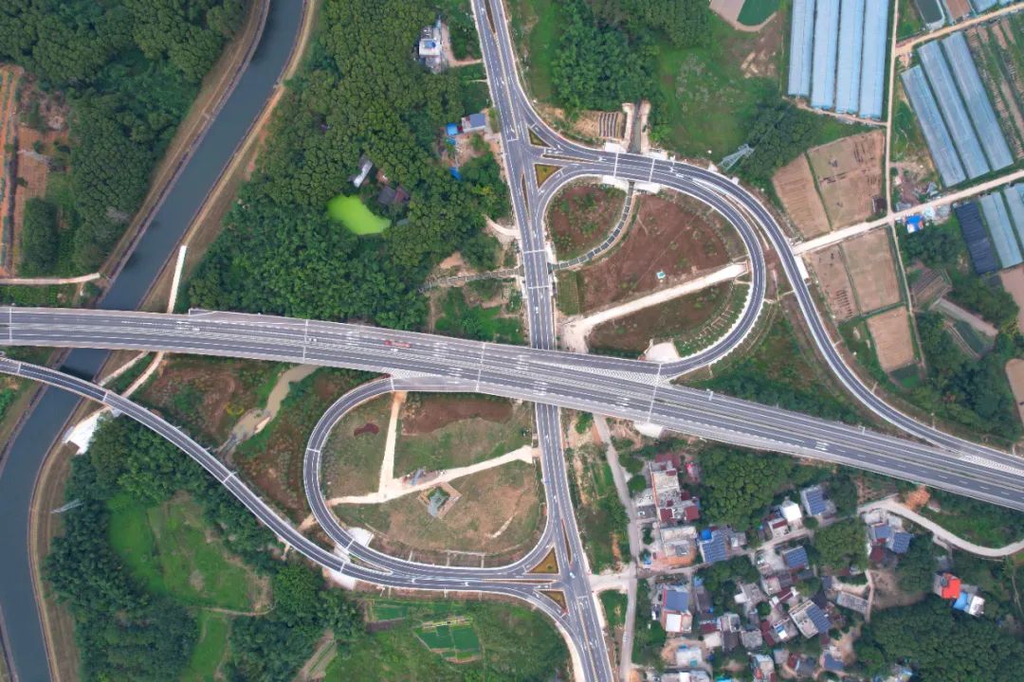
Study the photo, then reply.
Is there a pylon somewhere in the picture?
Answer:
Yes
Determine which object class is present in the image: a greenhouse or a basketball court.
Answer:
greenhouse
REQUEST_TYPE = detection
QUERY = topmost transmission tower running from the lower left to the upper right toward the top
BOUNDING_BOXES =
[717,141,752,171]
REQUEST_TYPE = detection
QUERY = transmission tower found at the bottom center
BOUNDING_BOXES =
[430,487,451,516]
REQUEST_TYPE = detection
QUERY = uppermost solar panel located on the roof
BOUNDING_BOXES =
[807,490,826,514]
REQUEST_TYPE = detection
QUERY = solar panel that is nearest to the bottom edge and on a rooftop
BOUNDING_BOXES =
[807,605,831,632]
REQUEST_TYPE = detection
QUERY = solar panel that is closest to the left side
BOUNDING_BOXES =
[703,539,725,562]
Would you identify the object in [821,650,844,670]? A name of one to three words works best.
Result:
house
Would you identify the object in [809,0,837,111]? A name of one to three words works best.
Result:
greenhouse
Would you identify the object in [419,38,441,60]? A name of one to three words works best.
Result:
house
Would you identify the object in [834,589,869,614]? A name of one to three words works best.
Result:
barn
